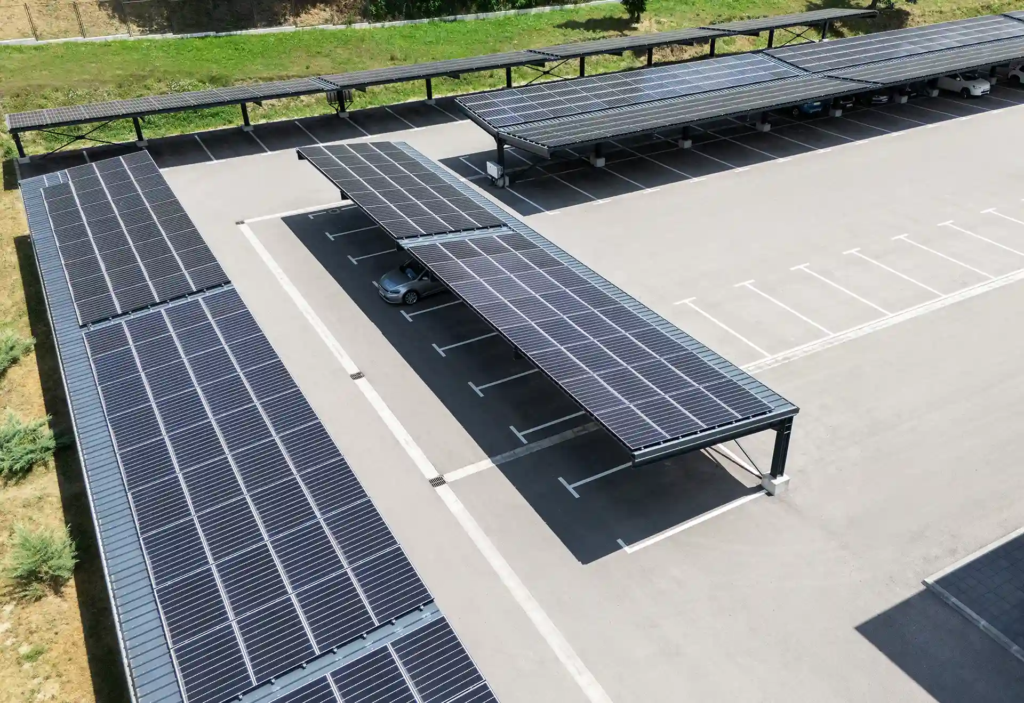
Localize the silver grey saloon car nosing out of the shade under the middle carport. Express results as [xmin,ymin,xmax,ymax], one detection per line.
[375,257,448,307]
